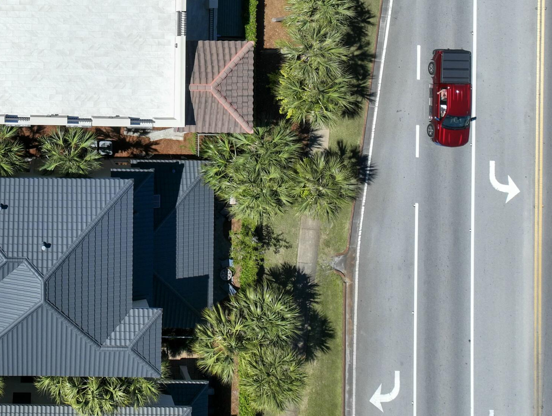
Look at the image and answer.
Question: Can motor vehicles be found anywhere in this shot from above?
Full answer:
Yes, I can see a motor vehicle in this picture.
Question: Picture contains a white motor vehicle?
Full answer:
No, I can't see a single white motor vehicle in this photo.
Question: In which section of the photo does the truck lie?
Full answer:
You can find the truck in the top right area of the picture.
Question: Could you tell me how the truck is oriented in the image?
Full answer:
The truck is oriented from top to bottom.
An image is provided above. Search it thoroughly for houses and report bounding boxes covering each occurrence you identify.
[0,158,215,381]
[0,0,256,133]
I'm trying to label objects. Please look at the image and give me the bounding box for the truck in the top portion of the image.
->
[425,45,476,147]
